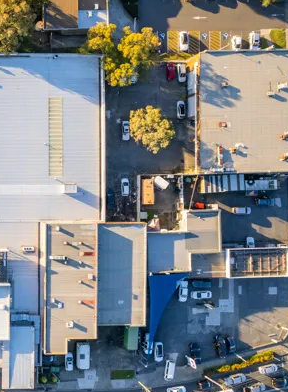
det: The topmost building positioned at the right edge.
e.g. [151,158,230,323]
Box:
[190,50,288,172]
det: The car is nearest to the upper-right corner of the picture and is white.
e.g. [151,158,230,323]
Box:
[247,33,260,50]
